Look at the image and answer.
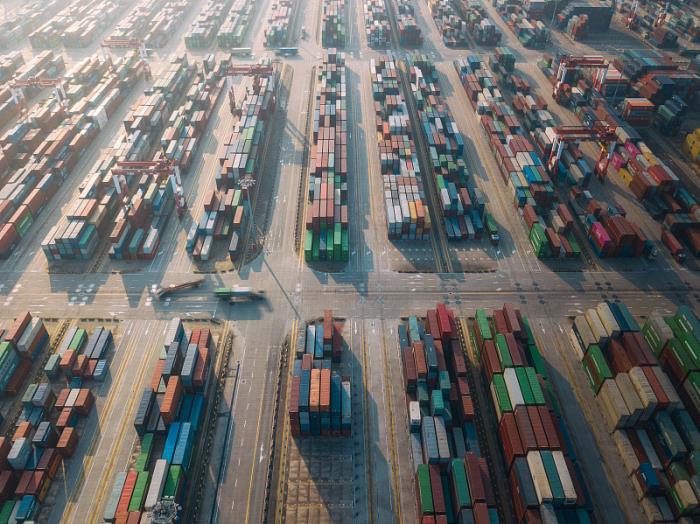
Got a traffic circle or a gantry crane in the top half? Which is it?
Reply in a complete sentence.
It is a gantry crane that can be seen in the top half.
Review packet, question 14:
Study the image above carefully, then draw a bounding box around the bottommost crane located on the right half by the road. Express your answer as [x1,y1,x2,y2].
[547,127,621,182]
